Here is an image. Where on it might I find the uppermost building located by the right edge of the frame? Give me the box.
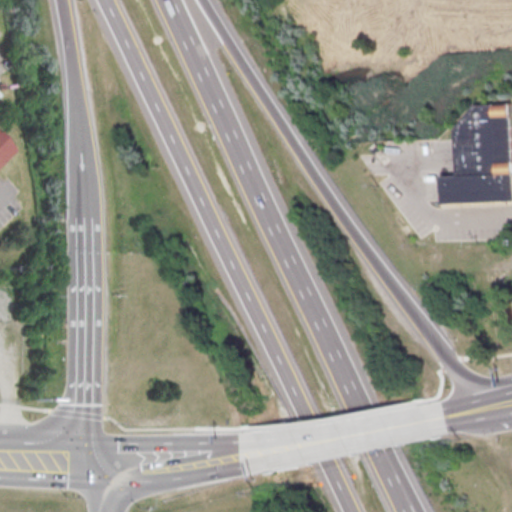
[438,102,512,209]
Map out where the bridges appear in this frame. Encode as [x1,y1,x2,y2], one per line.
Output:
[238,398,448,477]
